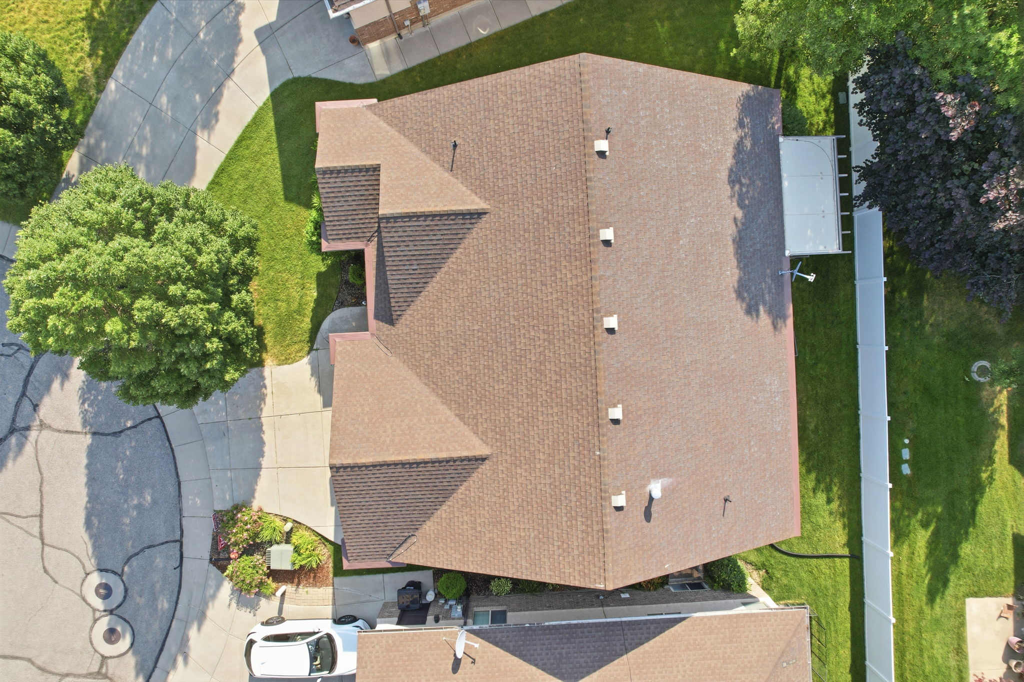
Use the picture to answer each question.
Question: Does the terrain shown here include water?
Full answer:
No, the picture contains no water.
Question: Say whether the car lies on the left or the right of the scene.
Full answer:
The car sits on the left side.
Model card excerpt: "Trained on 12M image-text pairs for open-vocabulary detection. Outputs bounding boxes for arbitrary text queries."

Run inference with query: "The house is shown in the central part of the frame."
[314,51,804,591]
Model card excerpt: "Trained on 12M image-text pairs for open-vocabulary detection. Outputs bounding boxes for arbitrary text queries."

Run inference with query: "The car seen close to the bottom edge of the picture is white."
[245,616,371,682]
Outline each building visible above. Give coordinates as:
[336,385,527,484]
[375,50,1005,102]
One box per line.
[314,51,804,591]
[356,585,813,682]
[322,0,488,49]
